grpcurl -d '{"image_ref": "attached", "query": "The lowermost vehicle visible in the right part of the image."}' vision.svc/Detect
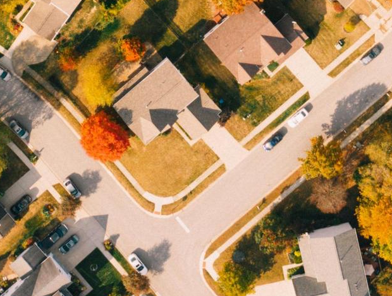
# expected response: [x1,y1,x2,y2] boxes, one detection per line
[262,131,284,150]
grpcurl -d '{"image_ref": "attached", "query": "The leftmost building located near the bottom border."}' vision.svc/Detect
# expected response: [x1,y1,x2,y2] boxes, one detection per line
[0,239,77,296]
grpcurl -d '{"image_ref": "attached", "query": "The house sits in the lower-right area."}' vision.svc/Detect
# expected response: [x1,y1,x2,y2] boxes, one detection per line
[289,224,367,296]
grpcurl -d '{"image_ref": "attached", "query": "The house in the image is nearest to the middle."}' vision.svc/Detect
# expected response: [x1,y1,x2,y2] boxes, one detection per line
[113,58,225,146]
